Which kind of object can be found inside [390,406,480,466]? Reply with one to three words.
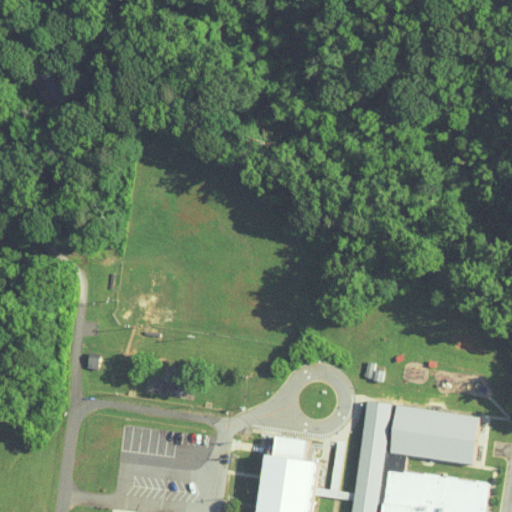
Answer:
building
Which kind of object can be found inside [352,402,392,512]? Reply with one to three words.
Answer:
building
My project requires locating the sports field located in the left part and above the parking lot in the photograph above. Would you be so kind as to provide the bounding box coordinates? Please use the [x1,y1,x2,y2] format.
[115,160,282,344]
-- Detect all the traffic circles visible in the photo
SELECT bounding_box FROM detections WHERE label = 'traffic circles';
[232,361,356,440]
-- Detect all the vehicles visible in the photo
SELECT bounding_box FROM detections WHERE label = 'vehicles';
[166,432,172,442]
[196,434,202,445]
[172,482,178,492]
[204,435,210,447]
[176,432,182,444]
[191,433,196,444]
[188,481,197,496]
